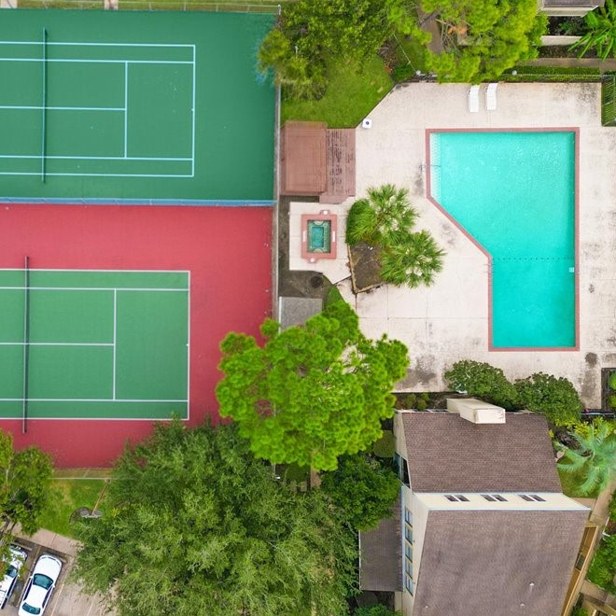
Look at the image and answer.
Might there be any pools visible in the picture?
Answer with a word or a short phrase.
Yes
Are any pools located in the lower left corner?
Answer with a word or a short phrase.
No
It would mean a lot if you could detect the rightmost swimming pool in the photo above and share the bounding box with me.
[426,127,580,351]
